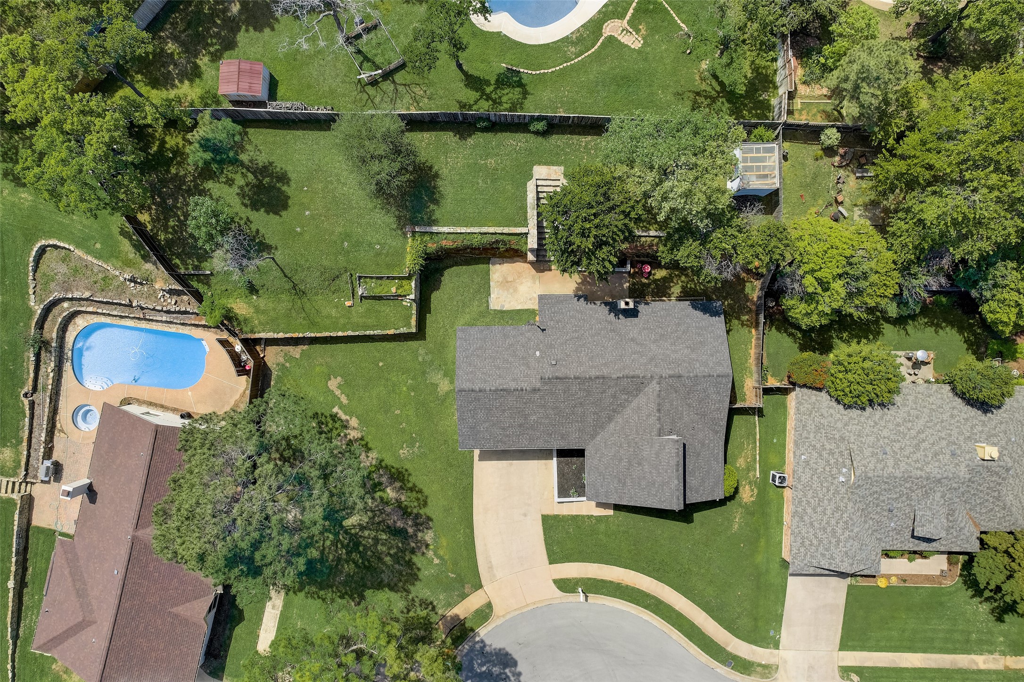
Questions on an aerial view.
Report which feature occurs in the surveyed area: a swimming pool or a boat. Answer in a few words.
swimming pool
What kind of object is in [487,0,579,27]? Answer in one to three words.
swimming pool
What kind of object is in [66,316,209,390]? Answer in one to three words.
swimming pool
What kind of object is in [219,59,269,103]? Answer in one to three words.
shed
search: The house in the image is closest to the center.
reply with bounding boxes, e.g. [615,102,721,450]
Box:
[456,294,732,511]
